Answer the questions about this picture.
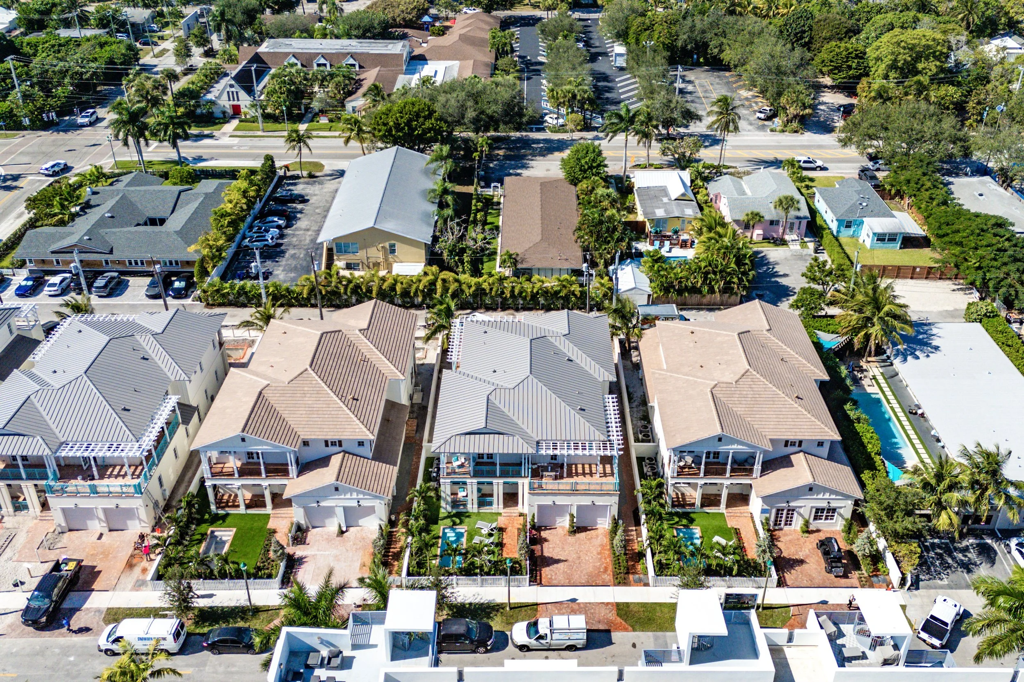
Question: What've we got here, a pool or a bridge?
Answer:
pool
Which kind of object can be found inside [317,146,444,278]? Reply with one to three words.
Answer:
building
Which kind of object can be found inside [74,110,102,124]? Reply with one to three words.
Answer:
car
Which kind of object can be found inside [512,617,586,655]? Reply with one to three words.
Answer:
truck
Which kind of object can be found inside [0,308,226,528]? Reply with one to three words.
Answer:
house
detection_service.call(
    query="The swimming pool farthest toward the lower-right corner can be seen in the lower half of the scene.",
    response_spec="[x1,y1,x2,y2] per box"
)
[856,390,924,463]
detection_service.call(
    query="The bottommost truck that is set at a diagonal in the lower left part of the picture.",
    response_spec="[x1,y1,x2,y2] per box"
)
[16,566,80,633]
